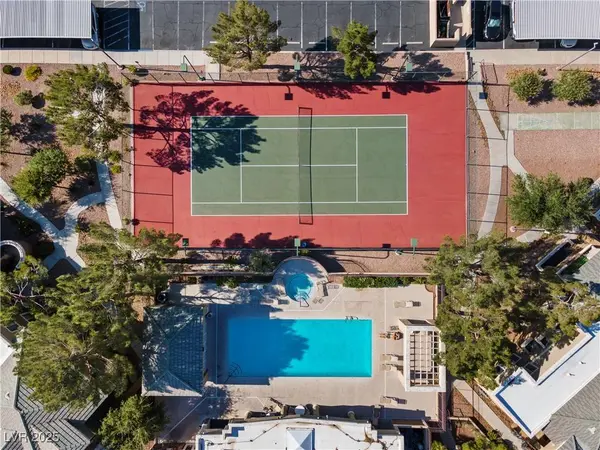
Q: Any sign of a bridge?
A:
No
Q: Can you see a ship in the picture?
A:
No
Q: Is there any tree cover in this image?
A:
Yes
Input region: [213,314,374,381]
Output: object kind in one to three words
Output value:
swimming pool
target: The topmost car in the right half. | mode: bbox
[480,0,503,43]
